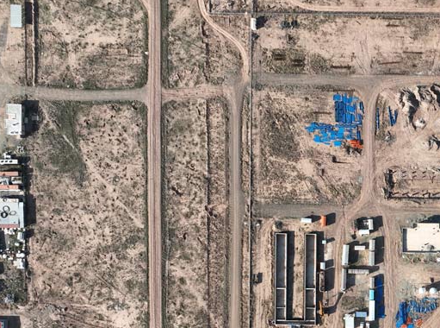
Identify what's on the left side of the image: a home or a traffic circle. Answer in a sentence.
You can see a home on the left side of the image.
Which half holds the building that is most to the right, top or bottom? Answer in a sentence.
The building that is most to the right sits in the bottom half of the picture.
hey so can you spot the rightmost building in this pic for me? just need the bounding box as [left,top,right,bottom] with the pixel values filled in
[403,223,440,253]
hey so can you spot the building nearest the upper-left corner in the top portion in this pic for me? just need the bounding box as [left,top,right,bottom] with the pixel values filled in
[6,104,26,139]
